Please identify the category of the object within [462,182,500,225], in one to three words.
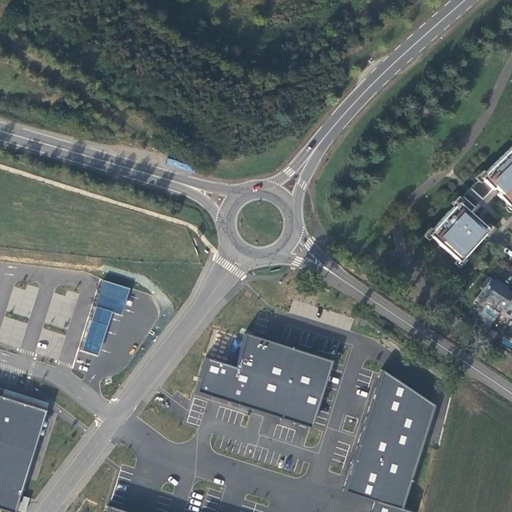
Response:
building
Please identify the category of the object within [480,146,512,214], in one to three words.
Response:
building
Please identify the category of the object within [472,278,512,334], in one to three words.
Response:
house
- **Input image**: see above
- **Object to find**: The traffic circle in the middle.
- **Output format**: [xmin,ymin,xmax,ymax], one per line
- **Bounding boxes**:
[203,169,316,280]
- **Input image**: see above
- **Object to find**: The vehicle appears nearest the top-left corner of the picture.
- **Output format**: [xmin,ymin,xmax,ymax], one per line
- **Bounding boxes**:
[166,157,194,173]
